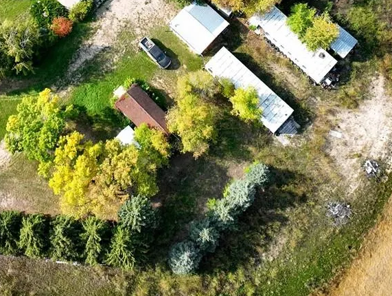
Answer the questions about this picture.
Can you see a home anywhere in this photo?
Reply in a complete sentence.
Yes, looking at the shot, I can spot a home.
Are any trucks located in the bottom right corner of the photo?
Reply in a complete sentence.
No, no truck is visible in the bottom right corner of the photo.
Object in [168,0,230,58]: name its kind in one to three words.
building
